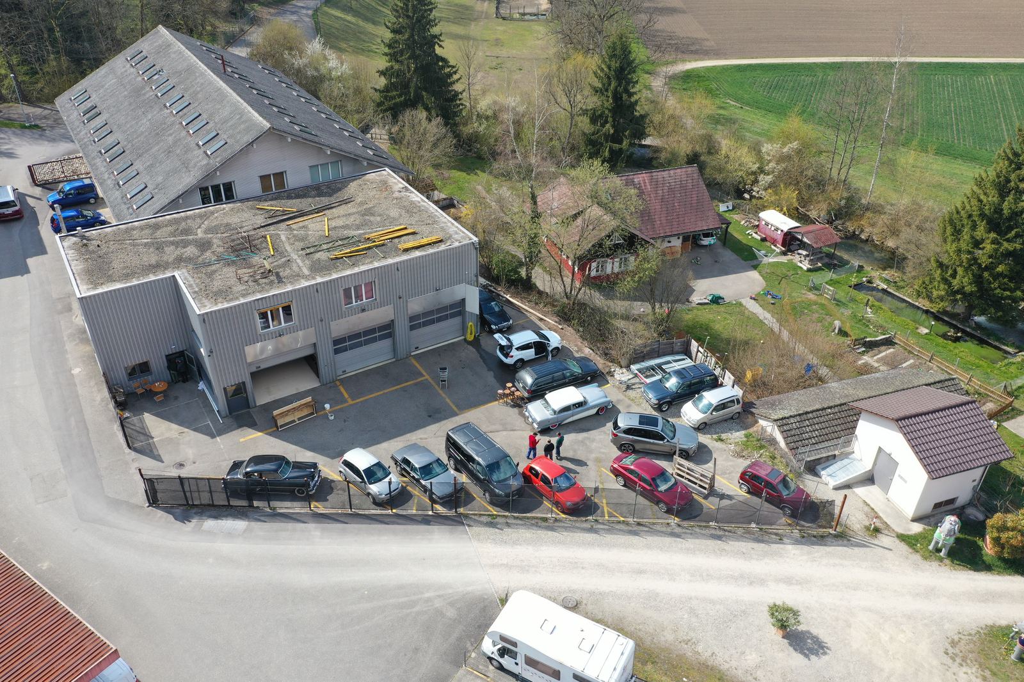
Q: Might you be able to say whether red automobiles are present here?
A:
Yes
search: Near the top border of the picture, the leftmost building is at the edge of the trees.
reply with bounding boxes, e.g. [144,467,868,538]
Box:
[54,22,417,224]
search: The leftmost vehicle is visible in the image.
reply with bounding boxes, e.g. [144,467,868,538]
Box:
[0,183,31,217]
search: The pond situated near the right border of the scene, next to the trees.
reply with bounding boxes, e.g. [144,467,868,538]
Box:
[849,286,1024,370]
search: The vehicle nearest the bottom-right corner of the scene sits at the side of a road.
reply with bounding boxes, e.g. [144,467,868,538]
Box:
[734,453,817,517]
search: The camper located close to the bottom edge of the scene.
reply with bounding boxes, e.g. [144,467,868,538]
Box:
[475,587,641,682]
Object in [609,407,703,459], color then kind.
gray car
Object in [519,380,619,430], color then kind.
white car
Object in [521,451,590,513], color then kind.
red car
